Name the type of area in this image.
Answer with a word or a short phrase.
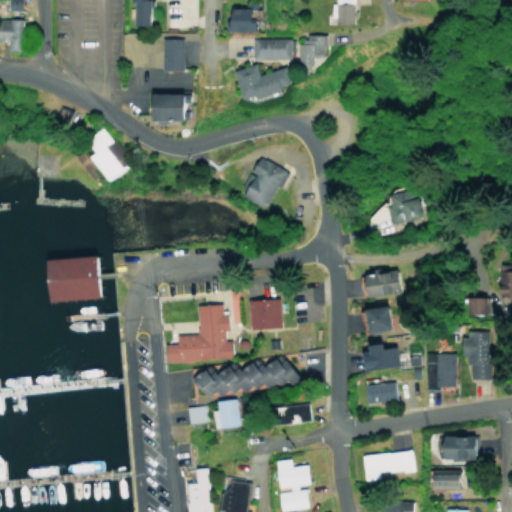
residential area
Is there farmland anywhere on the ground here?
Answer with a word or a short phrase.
No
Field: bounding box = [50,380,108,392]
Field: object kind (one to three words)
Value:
pier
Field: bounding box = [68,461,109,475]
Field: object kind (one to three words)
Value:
boat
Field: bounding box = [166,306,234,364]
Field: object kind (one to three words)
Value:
building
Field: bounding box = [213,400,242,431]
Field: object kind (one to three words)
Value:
house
